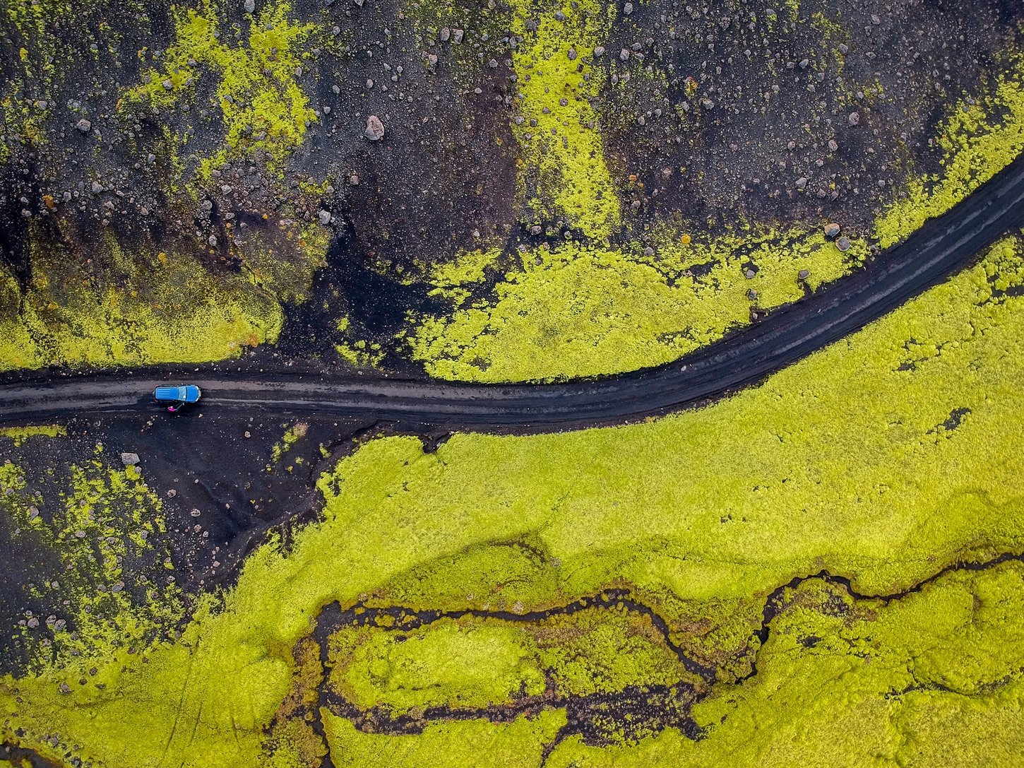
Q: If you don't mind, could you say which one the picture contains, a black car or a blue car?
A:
blue car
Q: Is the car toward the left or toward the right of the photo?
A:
left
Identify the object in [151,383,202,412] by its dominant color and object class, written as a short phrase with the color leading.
blue car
